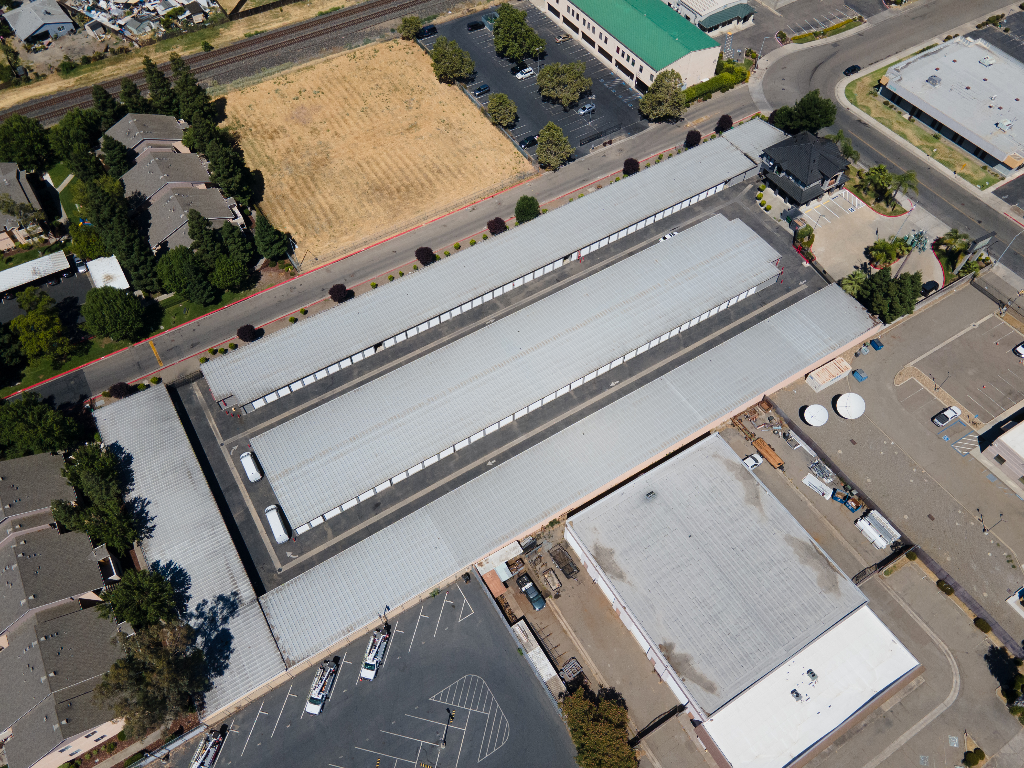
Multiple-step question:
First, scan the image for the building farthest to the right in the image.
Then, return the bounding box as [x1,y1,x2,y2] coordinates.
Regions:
[983,416,1024,490]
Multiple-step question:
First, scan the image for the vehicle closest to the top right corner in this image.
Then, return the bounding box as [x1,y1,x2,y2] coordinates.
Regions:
[842,66,862,78]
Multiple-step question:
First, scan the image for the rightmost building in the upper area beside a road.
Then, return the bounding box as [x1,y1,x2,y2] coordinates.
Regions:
[874,18,1024,175]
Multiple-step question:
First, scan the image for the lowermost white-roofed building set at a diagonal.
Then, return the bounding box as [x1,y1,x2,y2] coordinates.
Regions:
[693,602,929,768]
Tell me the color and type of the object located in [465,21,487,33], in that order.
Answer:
black vehicle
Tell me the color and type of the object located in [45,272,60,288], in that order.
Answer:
black car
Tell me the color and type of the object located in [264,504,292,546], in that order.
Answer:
white van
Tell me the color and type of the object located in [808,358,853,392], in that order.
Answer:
white shipping container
